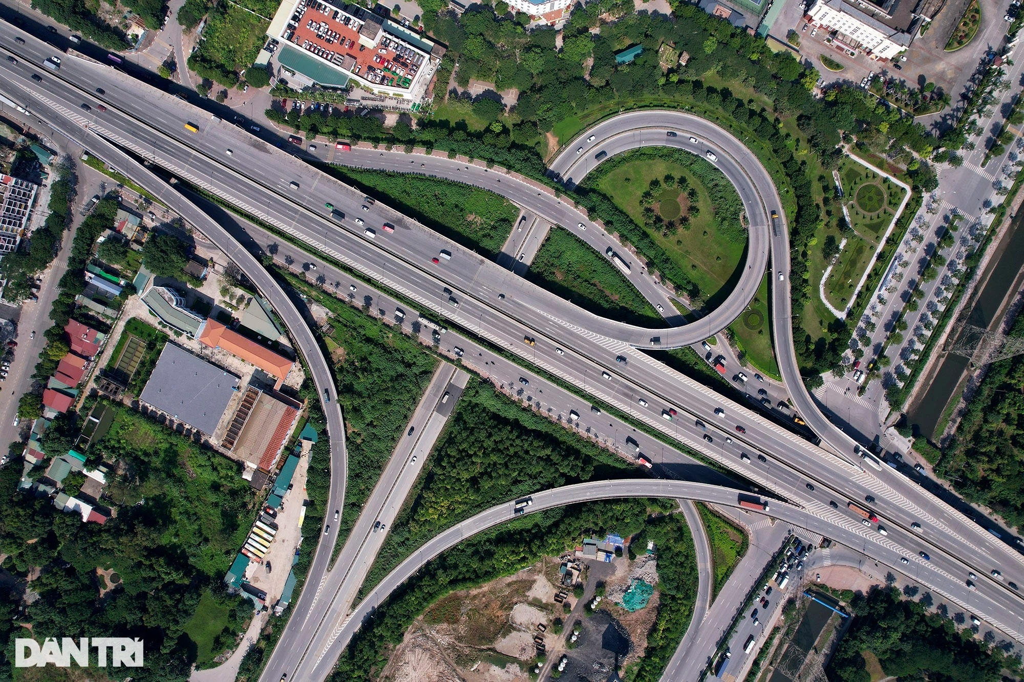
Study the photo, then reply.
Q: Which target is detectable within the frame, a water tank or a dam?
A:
water tank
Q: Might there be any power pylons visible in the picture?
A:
Yes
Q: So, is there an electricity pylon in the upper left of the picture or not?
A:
No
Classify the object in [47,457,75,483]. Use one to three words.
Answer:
house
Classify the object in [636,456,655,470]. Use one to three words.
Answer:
vehicle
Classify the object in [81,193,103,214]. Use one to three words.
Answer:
truck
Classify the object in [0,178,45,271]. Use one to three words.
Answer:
building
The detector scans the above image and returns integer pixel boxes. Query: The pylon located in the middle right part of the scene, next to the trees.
[942,320,1024,370]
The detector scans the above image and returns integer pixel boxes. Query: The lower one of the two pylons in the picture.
[772,638,828,682]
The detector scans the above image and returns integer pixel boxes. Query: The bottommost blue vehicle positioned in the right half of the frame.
[715,652,731,678]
